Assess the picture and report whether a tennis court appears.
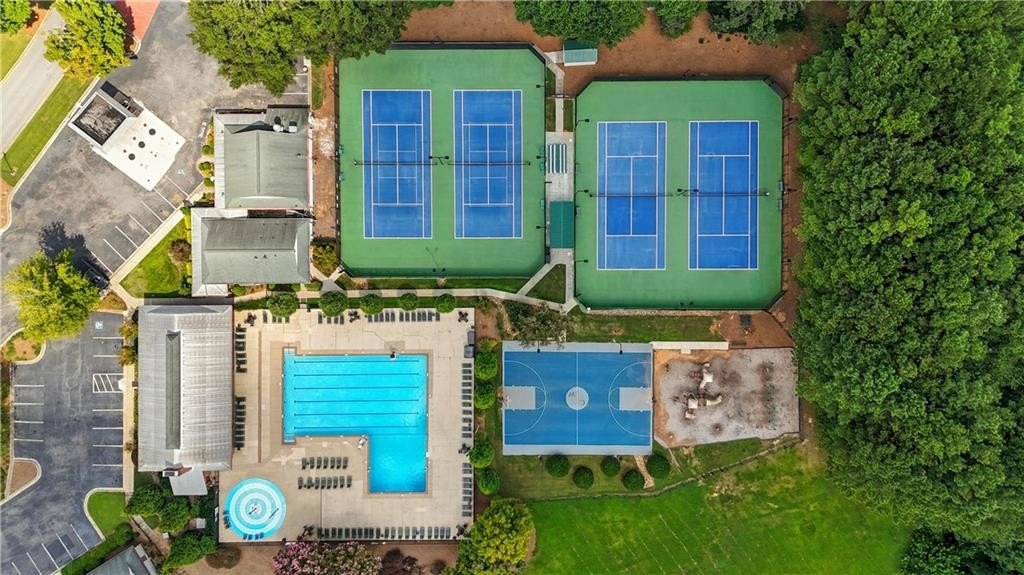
Yes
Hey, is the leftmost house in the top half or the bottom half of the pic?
bottom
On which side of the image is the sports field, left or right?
right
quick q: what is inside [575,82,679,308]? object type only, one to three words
tennis court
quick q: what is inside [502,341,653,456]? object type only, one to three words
basketball court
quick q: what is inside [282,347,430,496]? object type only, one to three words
swimming pool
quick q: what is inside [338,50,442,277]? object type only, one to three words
tennis court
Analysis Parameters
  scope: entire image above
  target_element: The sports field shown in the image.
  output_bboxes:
[466,448,930,575]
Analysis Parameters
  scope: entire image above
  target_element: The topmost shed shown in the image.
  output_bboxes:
[563,40,598,67]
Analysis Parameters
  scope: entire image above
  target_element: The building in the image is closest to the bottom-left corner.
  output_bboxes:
[87,537,162,575]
